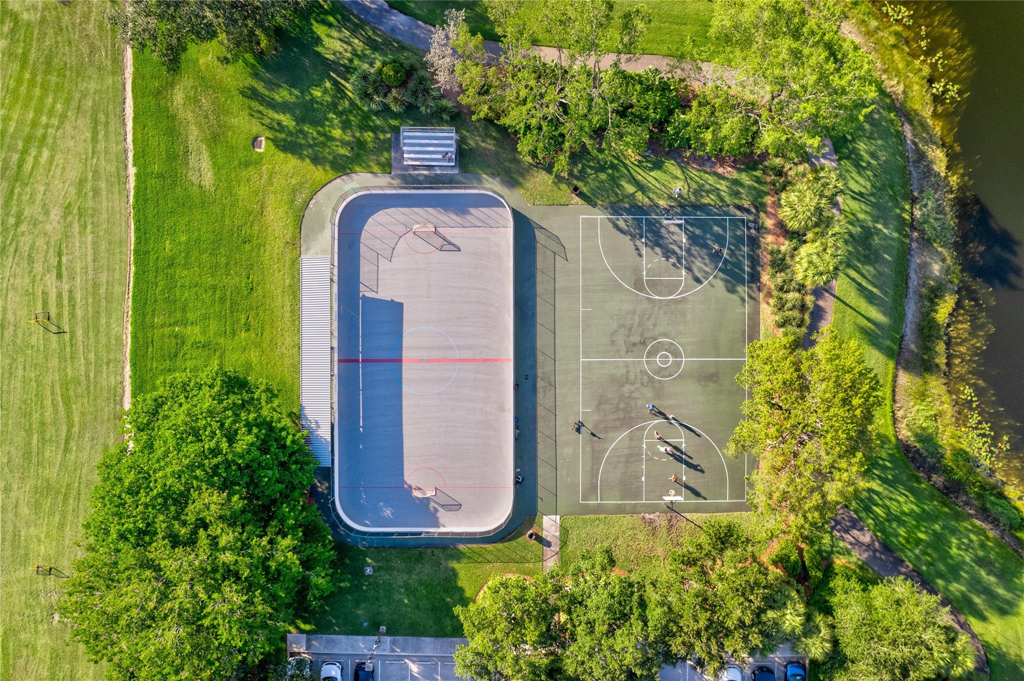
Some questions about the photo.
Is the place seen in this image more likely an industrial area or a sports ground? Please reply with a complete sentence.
The area seen from above is a sports ground.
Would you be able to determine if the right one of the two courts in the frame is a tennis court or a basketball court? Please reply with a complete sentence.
The right one of the two courts in the image is a basketball court.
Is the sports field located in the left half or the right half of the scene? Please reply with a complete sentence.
The sports field appears in the left half of the scene.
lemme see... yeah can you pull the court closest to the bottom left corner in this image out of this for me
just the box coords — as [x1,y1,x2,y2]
[333,188,513,533]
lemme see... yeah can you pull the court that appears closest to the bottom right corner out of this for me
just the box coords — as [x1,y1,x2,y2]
[557,205,760,515]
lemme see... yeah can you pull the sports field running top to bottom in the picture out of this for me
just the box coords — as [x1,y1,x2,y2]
[0,0,128,681]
